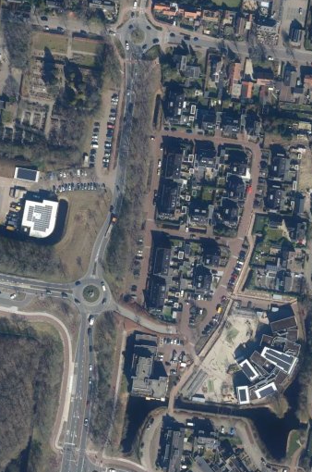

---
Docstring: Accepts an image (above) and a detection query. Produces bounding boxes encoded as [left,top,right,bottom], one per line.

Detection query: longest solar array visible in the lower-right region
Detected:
[263,349,294,370]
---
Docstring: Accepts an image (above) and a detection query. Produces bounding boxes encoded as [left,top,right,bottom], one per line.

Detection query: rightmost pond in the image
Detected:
[251,406,306,463]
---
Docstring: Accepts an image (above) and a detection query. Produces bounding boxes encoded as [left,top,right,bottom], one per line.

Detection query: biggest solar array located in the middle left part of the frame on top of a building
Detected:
[28,205,50,234]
